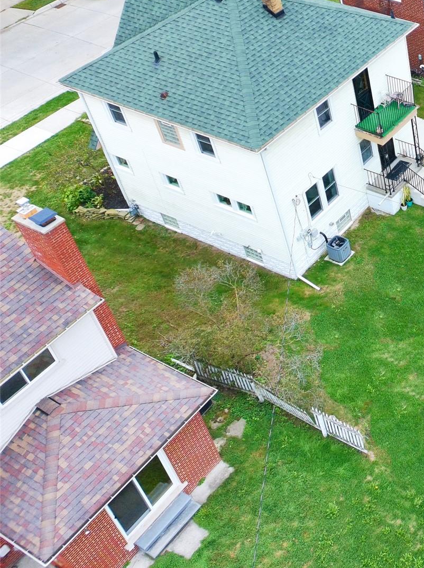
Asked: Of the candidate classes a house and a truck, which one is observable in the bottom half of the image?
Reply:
house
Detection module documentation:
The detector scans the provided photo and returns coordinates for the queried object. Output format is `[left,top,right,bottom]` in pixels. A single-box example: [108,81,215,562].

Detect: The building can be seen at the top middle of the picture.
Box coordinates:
[53,0,424,292]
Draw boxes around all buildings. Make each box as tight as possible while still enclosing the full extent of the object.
[53,0,424,292]
[0,200,226,568]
